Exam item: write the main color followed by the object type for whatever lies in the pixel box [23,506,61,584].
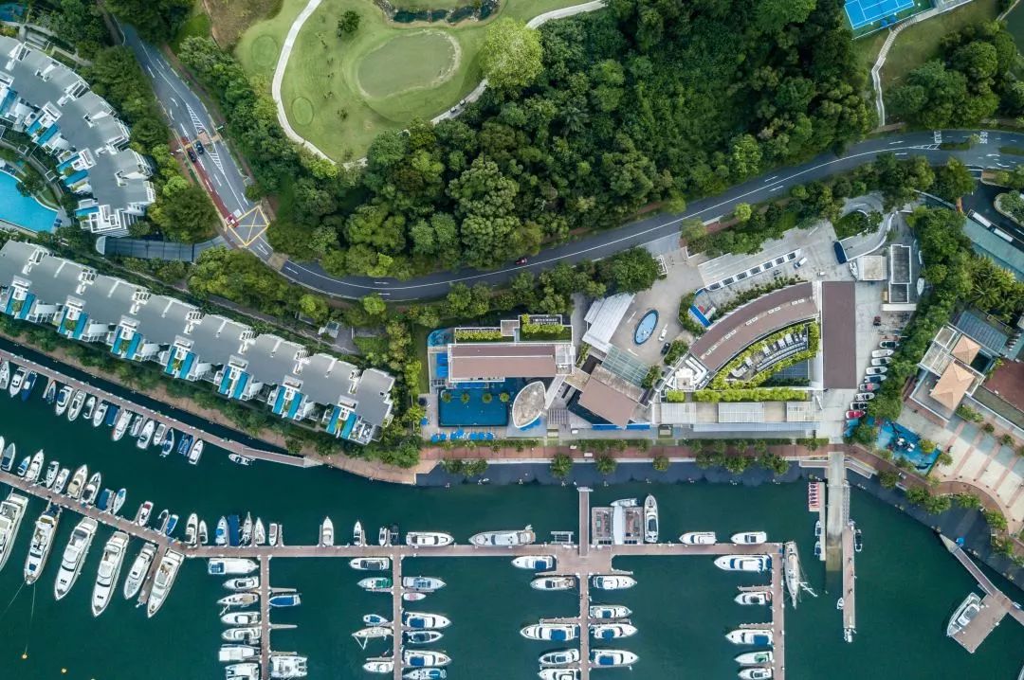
white boat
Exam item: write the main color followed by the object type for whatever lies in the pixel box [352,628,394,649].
white boat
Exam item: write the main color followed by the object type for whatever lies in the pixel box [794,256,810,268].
white vehicle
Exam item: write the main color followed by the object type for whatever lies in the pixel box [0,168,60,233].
blue swimming pool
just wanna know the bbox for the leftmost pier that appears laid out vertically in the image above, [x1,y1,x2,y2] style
[261,557,298,680]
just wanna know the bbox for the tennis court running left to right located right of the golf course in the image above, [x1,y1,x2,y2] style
[838,0,931,41]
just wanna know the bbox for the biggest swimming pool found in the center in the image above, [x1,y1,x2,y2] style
[438,378,539,428]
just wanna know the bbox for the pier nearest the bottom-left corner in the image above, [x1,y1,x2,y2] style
[0,470,186,603]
